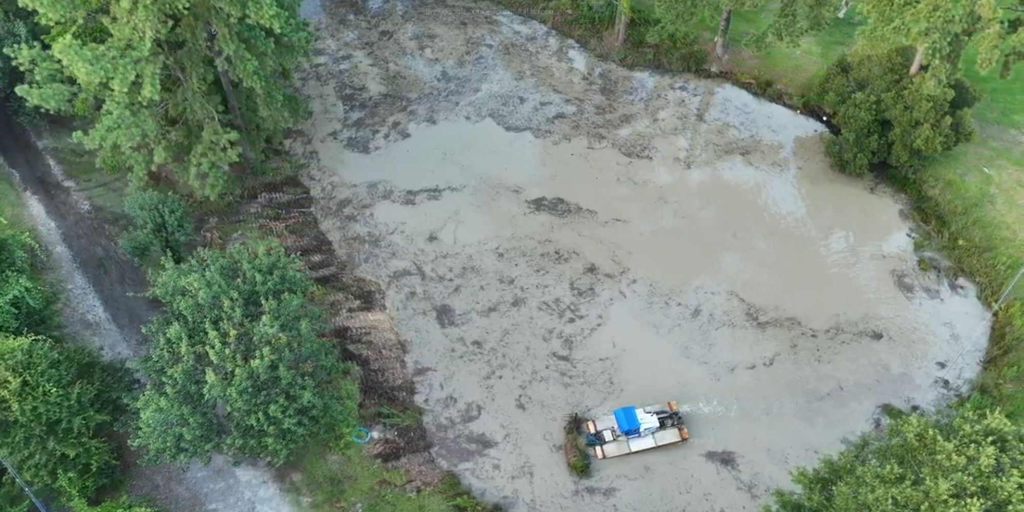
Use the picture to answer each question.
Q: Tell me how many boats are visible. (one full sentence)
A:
Only 1 boat is visible.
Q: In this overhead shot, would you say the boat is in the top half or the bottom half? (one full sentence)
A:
You can find the boat in the bottom half.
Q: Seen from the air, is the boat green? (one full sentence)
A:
No, the boat is actually white.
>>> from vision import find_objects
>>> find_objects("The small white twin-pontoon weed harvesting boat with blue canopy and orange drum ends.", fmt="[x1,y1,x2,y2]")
[560,403,688,470]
